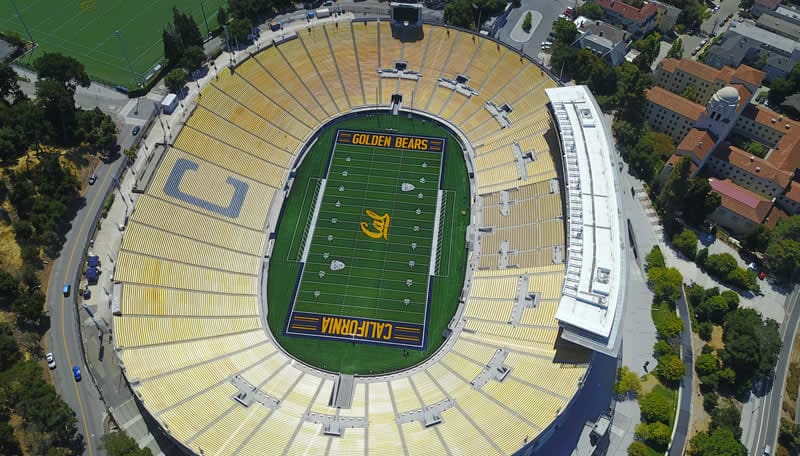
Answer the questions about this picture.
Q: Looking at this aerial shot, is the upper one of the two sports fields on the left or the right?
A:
left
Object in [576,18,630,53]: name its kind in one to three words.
house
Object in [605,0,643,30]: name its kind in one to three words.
house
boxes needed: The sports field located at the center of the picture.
[265,112,473,376]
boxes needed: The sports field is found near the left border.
[0,0,233,98]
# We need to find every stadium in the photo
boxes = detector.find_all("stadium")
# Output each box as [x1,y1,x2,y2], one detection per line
[112,16,596,456]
